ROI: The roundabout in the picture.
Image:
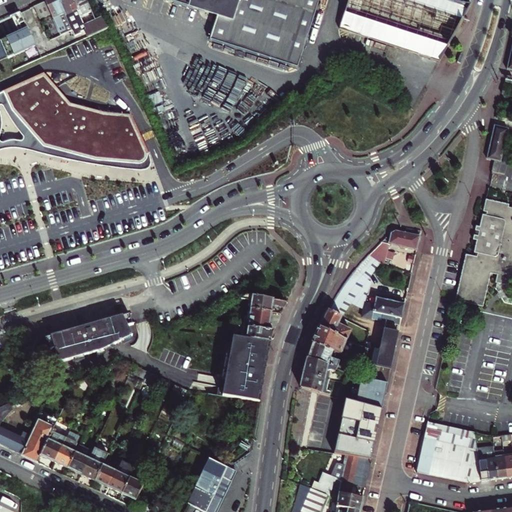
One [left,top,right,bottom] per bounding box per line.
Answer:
[292,163,372,243]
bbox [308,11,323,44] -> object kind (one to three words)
vehicle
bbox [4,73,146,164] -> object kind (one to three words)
building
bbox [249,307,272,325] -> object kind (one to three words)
house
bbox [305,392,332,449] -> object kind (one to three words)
shed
